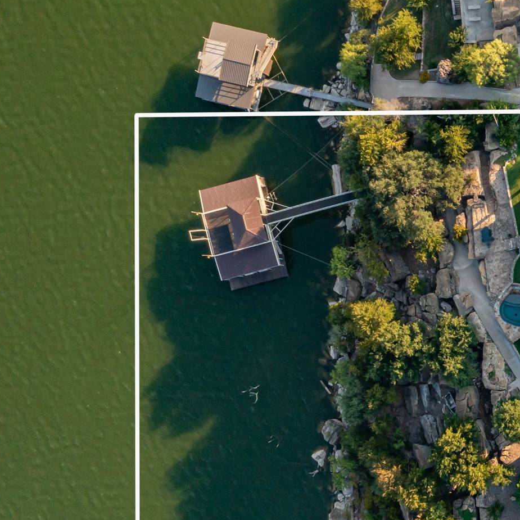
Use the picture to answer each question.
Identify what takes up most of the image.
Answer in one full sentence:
For the most part, this view shows water.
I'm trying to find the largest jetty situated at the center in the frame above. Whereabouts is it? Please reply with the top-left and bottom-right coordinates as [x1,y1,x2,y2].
[188,174,290,290]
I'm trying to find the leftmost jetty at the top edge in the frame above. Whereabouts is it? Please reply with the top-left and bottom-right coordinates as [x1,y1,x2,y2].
[193,23,278,112]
